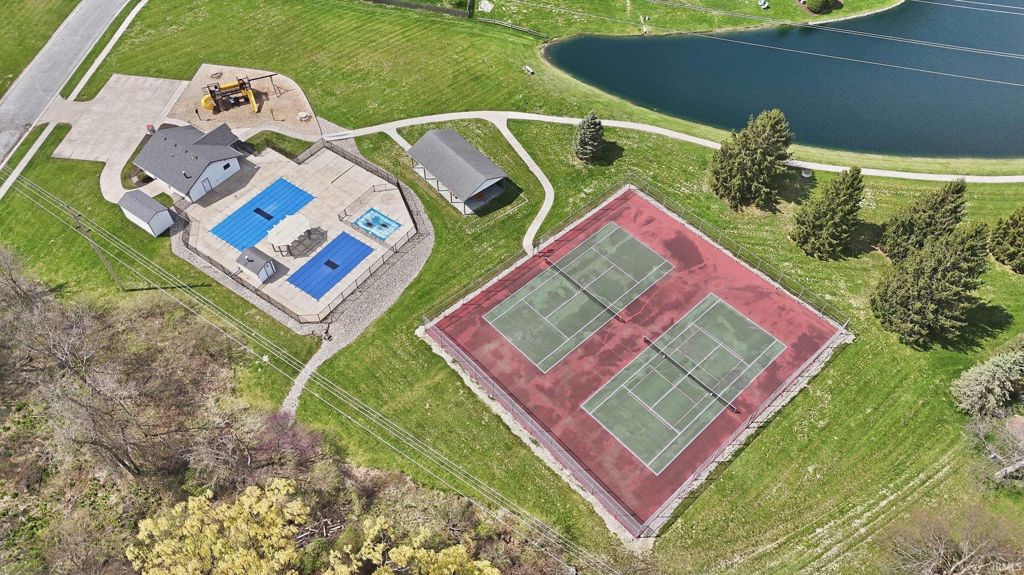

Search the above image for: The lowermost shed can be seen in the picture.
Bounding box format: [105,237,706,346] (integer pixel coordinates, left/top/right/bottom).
[233,245,276,283]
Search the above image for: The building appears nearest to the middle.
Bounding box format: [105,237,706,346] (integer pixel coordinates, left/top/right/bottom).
[403,129,509,216]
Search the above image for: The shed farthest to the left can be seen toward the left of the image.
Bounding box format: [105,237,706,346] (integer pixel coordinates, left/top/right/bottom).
[116,190,174,237]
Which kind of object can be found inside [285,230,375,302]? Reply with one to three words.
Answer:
swimming pool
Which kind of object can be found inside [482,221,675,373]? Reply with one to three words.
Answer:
tennis court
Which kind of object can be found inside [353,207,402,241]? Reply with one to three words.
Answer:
swimming pool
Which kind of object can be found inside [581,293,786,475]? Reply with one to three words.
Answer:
tennis court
